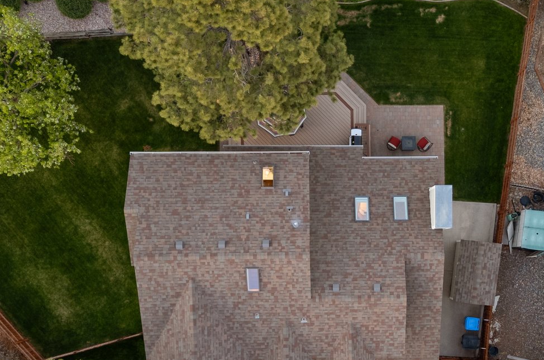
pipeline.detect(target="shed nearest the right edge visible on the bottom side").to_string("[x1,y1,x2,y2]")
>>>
[503,205,544,255]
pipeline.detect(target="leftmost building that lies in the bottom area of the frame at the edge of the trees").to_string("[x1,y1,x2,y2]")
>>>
[124,143,452,360]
